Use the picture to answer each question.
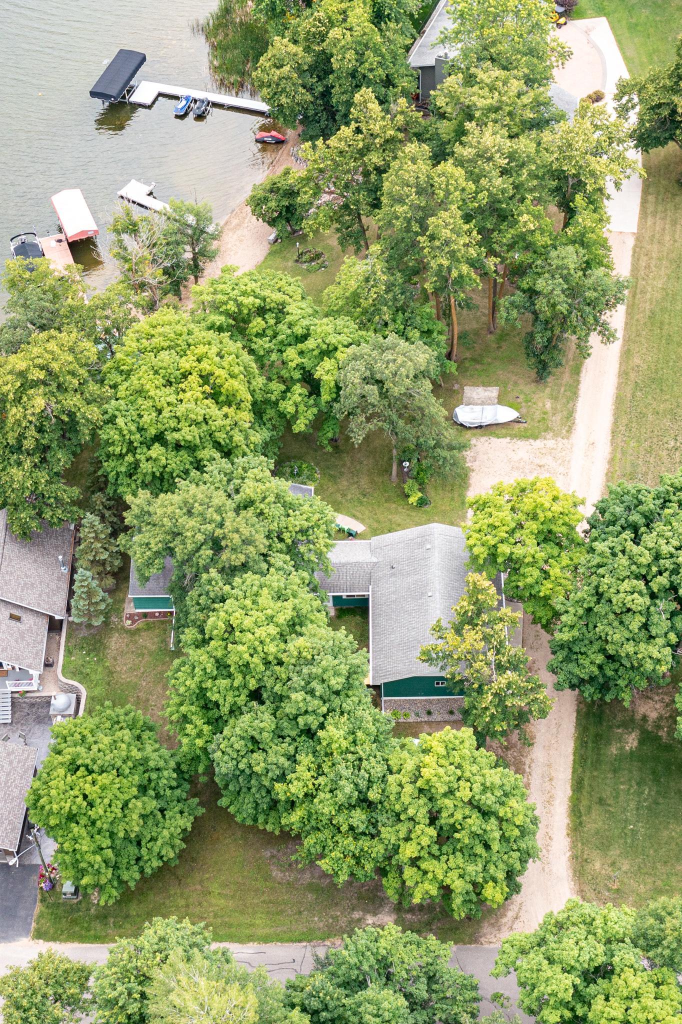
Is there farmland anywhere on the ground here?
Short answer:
No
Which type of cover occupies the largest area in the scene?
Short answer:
trees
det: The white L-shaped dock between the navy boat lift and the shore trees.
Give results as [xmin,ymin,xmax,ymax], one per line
[128,82,275,117]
